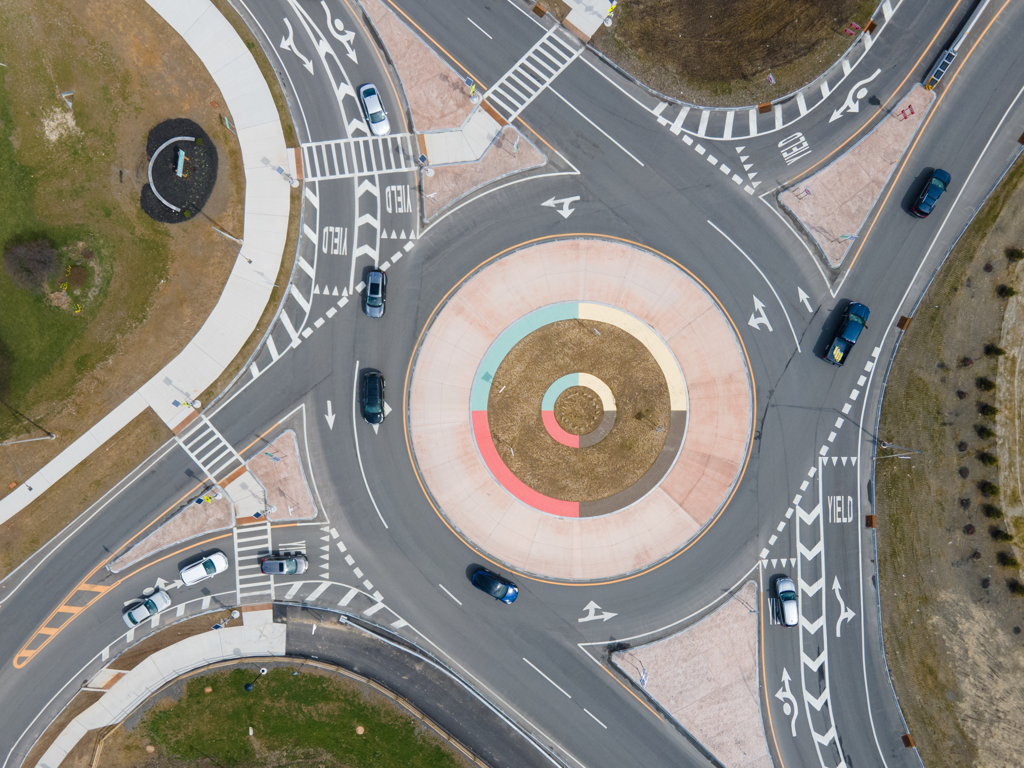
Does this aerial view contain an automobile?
Yes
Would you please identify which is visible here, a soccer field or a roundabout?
roundabout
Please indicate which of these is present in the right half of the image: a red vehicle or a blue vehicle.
blue vehicle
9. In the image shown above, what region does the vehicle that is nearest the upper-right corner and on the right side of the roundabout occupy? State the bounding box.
[909,169,949,219]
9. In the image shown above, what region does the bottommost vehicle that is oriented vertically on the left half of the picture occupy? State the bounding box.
[360,372,386,425]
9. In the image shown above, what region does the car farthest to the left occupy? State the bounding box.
[121,591,174,629]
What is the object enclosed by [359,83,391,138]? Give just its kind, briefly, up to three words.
car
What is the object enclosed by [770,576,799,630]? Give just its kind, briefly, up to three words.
car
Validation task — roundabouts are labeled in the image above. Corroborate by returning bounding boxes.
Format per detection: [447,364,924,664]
[291,116,881,671]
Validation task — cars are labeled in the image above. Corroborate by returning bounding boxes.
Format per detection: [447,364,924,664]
[770,576,799,630]
[121,591,174,629]
[909,169,949,219]
[259,552,310,578]
[471,568,520,603]
[362,269,388,319]
[359,83,391,138]
[179,551,231,587]
[360,372,386,425]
